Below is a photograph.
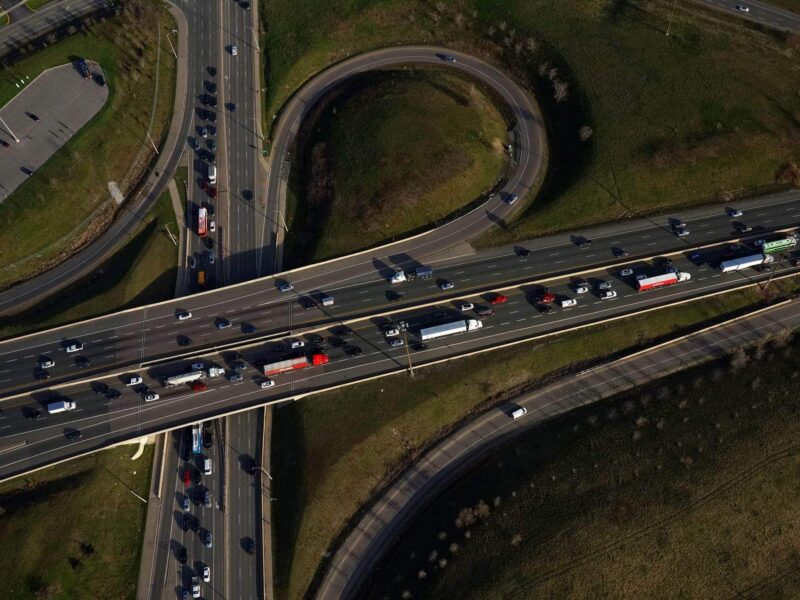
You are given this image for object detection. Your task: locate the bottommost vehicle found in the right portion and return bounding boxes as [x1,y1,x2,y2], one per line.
[509,406,527,419]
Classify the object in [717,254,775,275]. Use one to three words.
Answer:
truck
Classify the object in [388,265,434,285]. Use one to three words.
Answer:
vehicle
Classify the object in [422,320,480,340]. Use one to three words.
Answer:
vehicle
